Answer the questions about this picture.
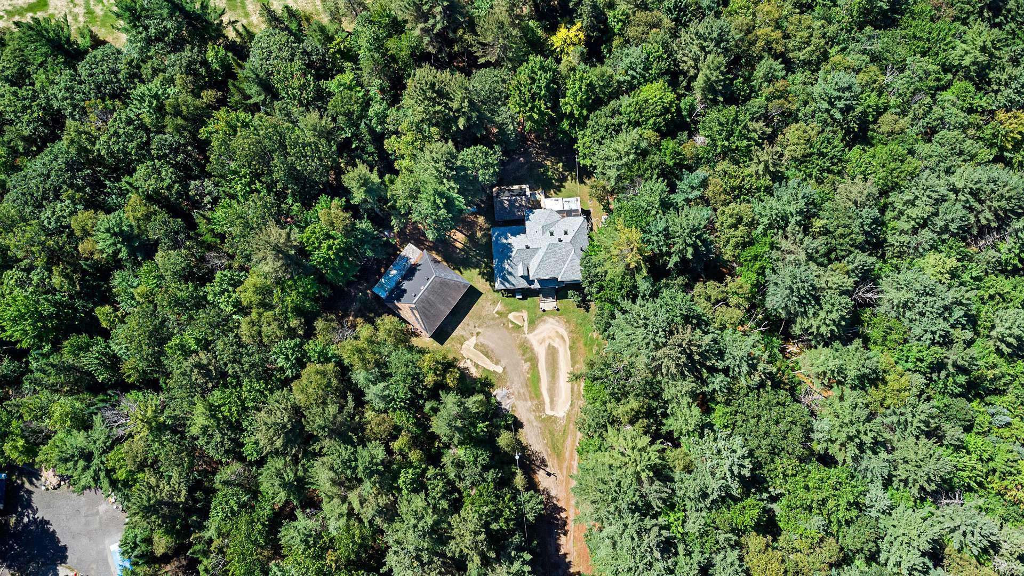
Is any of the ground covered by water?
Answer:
No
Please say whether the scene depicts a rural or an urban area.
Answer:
rural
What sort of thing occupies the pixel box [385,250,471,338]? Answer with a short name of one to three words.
barn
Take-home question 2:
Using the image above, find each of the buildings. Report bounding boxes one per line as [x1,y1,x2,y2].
[491,207,589,303]
[385,250,471,338]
